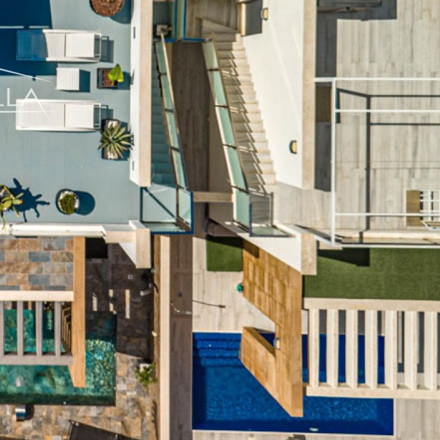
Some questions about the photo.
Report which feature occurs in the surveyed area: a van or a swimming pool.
swimming pool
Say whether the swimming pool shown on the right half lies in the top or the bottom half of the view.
bottom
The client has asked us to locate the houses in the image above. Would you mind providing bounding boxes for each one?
[0,0,193,387]
[176,0,440,417]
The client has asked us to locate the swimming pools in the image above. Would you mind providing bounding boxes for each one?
[0,309,116,397]
[194,334,393,435]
